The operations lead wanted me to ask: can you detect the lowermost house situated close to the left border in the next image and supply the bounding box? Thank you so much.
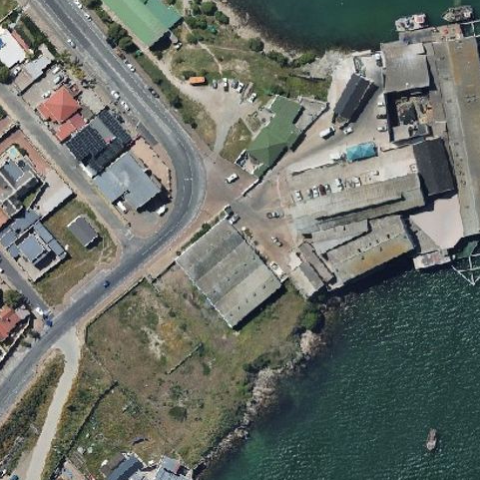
[0,305,30,341]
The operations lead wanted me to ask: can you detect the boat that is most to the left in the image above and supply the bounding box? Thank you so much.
[395,15,426,31]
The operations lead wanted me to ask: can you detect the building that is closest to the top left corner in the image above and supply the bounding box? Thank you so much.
[0,26,28,68]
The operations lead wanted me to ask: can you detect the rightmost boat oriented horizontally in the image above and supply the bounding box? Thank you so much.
[443,5,478,20]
